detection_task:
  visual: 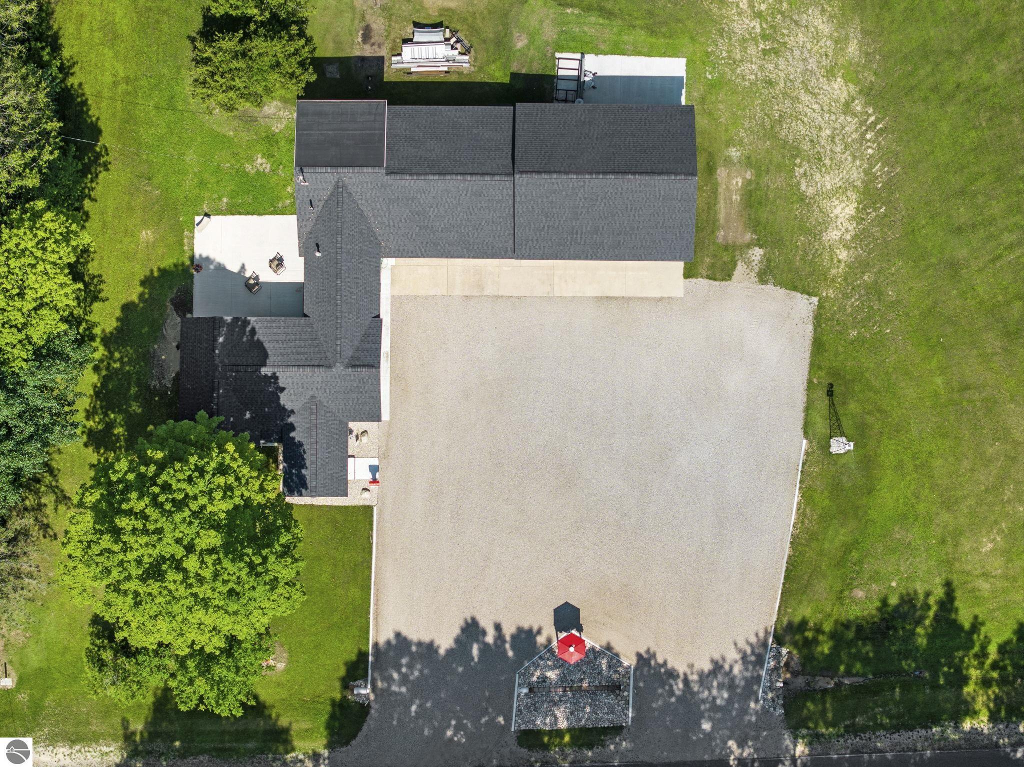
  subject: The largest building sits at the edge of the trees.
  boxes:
[179,99,697,498]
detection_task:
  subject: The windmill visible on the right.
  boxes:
[830,437,854,454]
